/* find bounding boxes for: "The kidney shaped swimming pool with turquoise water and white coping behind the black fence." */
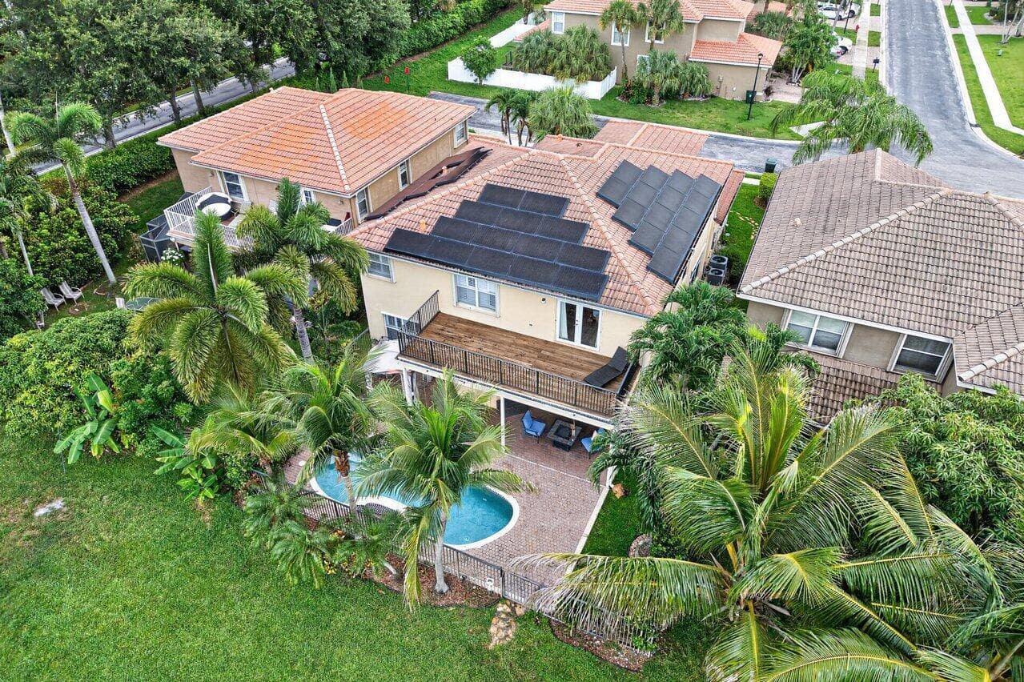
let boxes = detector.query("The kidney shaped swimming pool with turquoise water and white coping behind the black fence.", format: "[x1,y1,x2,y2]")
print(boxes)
[310,444,519,547]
